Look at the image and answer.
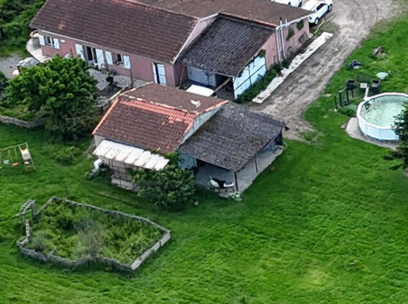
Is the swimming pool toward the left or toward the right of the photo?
right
